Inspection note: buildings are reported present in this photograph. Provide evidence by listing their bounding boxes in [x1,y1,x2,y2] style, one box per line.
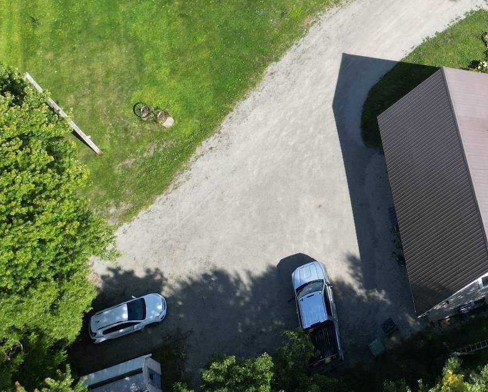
[61,345,165,392]
[379,67,488,323]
